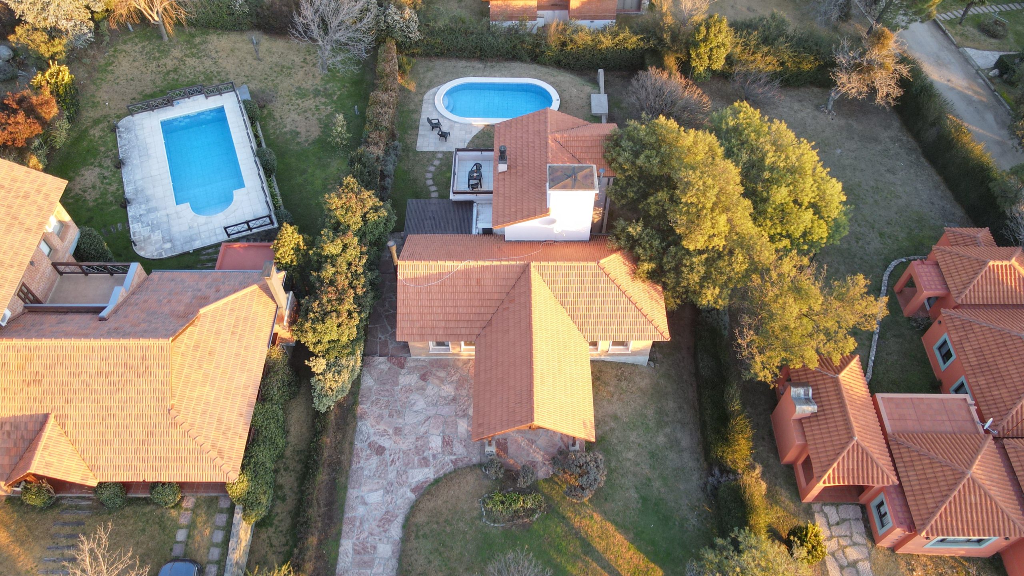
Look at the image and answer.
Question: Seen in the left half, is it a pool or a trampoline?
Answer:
pool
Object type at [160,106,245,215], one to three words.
swimming pool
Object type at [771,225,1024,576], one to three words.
house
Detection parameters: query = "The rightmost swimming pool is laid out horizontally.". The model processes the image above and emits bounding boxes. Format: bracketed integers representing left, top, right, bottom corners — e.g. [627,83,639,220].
[434,78,559,124]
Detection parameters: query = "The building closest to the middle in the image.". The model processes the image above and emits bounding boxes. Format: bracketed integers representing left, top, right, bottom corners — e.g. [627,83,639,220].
[387,108,671,460]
